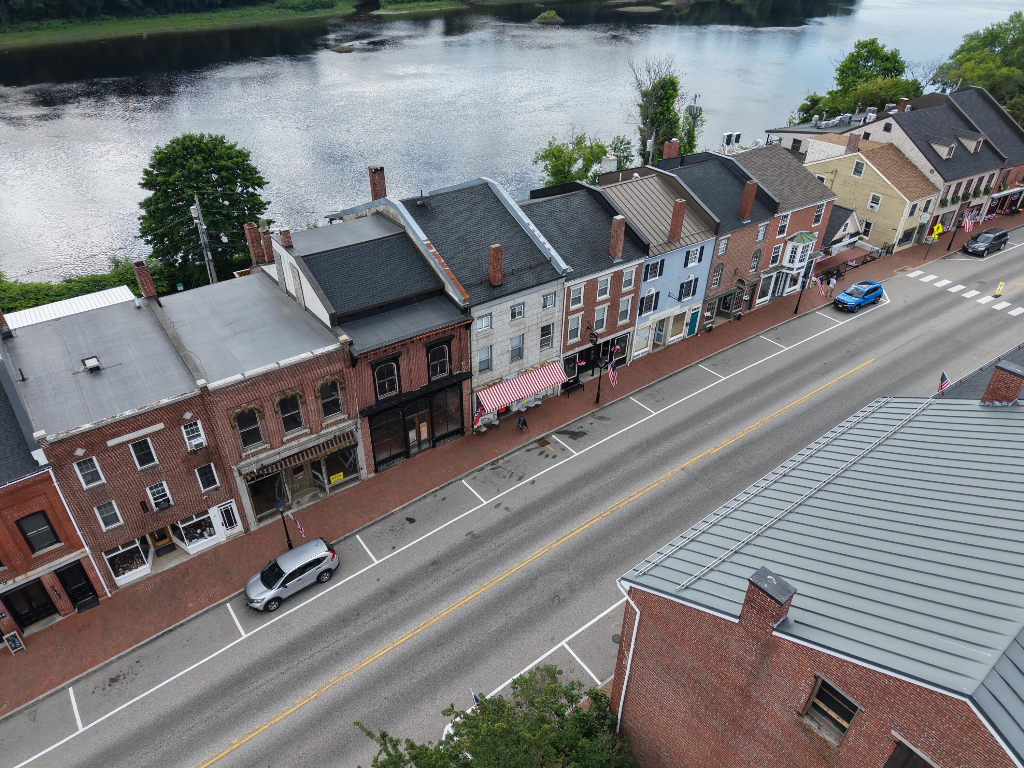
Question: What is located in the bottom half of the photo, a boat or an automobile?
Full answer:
Looking in the bottom half of the photo, you will find an automobile.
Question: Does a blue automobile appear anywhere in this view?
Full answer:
Yes, the image includes a blue automobile.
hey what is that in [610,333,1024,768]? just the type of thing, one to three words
warehouse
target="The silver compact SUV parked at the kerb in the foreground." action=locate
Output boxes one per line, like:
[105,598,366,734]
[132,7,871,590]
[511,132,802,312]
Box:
[239,536,340,616]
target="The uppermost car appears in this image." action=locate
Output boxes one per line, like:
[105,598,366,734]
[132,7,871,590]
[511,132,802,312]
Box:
[963,226,1013,257]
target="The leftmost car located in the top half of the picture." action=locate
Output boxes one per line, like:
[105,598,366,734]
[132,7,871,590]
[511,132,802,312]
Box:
[834,278,888,313]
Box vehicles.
[963,226,1013,257]
[239,536,340,616]
[834,278,888,313]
